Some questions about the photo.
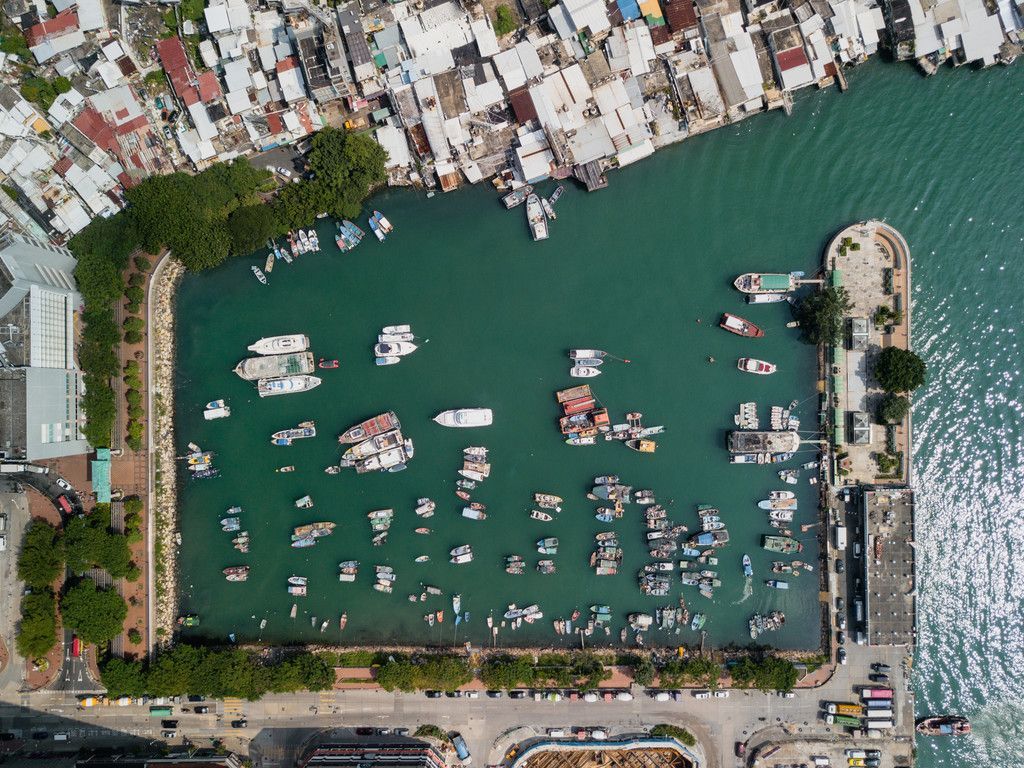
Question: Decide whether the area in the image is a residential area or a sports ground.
residential area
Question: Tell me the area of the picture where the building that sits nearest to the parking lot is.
bottom right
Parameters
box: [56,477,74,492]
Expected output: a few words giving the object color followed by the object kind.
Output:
white car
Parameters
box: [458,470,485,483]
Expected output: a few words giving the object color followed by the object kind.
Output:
white boat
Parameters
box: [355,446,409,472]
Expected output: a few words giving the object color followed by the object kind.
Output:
white boat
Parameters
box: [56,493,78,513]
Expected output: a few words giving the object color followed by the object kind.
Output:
red vehicle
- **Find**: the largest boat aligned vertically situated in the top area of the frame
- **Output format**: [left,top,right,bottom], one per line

[526,194,552,243]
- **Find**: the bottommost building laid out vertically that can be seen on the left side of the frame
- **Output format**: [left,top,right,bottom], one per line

[94,448,121,503]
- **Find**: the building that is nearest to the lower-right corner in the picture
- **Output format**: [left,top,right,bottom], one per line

[860,488,914,646]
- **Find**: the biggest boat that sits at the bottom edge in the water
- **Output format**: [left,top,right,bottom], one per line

[917,716,972,734]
